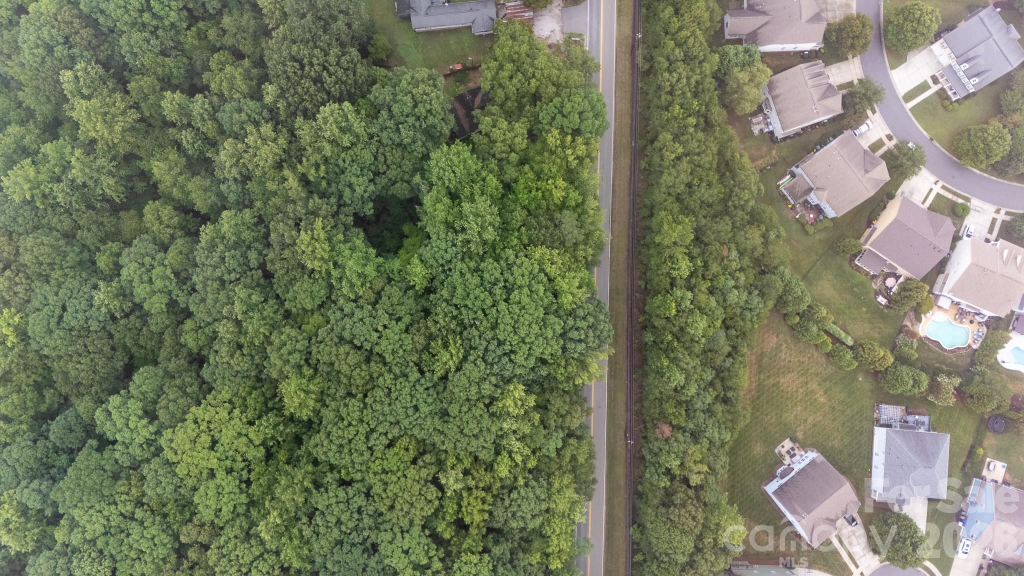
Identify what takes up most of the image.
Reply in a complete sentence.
The bulk of the photo consists of trees.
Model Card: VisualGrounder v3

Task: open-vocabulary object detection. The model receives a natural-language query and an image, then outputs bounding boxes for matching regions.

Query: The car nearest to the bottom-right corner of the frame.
[958,537,971,557]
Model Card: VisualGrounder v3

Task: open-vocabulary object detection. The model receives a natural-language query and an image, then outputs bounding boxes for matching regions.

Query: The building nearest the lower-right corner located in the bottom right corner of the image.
[960,476,1024,572]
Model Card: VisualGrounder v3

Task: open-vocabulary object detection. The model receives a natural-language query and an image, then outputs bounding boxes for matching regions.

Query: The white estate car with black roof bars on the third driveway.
[852,120,872,137]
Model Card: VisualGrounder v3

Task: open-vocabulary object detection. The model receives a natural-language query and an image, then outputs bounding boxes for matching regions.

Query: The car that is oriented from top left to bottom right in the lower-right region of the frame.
[844,514,859,529]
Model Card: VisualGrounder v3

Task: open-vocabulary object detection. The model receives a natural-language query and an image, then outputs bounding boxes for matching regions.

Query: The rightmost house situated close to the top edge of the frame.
[930,5,1024,100]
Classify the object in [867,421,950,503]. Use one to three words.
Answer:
house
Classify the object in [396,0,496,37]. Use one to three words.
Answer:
house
